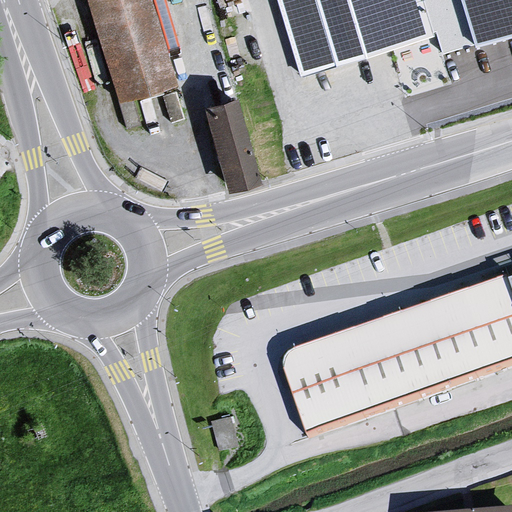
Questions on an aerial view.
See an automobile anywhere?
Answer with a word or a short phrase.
Yes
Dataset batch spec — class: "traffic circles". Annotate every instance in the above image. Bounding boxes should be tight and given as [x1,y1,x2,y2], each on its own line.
[0,84,220,428]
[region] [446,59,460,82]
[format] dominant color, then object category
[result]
white car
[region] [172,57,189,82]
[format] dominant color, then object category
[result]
white vehicle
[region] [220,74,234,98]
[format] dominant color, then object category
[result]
white vehicle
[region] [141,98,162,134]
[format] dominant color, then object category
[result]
white truck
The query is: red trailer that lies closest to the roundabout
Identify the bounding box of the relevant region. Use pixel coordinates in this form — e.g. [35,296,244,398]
[64,30,96,93]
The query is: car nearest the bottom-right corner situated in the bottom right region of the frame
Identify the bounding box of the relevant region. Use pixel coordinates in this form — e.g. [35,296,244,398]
[430,392,453,405]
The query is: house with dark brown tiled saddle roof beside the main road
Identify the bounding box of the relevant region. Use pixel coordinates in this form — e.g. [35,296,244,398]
[206,100,262,194]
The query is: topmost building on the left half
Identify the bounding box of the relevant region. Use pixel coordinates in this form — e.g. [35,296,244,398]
[88,0,178,103]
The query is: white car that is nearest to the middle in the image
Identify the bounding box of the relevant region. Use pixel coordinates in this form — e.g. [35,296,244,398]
[242,299,256,321]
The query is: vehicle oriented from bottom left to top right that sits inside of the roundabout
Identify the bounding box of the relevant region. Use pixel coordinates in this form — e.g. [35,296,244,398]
[40,228,64,247]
